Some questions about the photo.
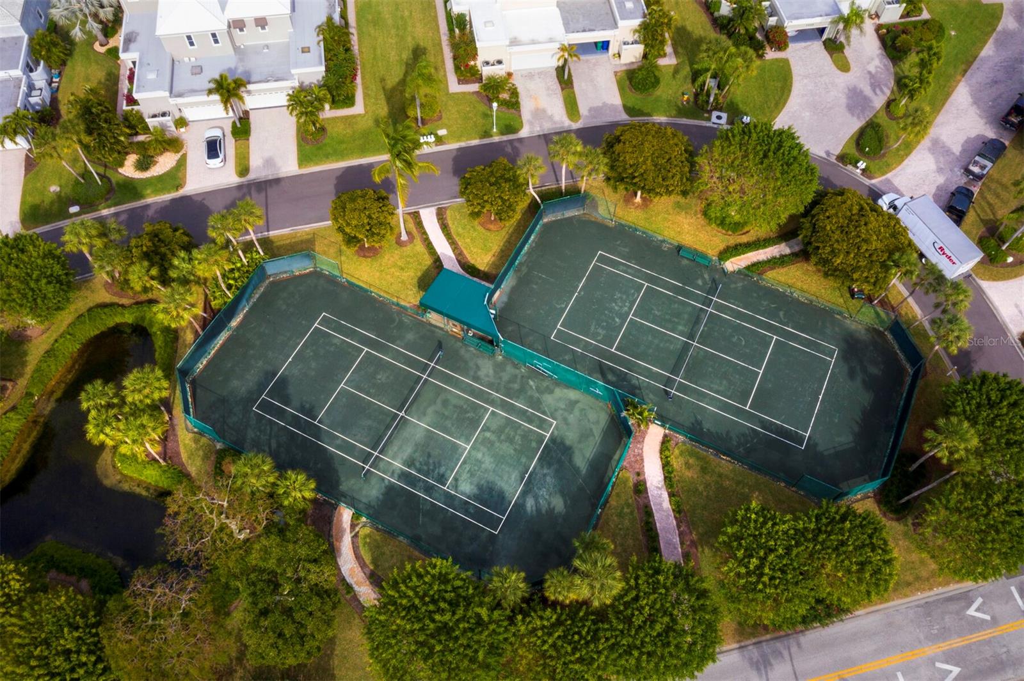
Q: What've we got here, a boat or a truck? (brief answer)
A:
truck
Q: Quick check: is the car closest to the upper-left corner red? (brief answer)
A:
No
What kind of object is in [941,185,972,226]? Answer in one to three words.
truck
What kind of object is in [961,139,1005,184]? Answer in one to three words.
truck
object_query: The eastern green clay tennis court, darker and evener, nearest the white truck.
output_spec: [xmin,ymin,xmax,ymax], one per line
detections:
[491,215,909,489]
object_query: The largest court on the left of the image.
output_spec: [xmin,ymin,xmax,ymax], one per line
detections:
[192,272,624,585]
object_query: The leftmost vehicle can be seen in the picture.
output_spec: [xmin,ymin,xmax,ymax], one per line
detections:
[201,130,226,169]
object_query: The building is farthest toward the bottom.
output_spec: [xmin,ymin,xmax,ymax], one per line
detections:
[420,268,503,348]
